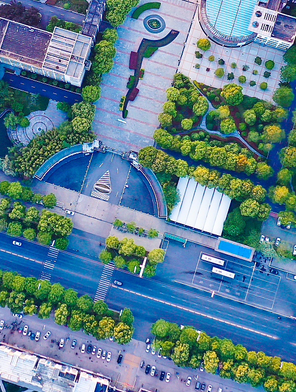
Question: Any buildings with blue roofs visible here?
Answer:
Yes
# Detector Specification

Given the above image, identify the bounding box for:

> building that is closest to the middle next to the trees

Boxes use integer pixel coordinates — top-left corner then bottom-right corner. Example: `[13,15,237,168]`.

[139,165,167,217]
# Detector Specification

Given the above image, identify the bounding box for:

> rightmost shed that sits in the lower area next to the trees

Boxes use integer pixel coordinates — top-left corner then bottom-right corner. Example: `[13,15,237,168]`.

[215,235,256,261]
